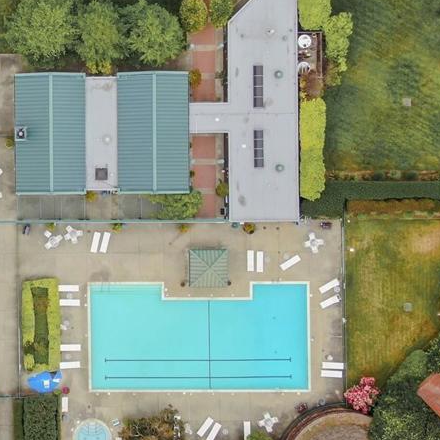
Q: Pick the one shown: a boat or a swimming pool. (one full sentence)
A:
It is a swimming pool that can be seen here.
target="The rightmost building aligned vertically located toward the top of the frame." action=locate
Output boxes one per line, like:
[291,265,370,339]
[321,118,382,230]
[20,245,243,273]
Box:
[190,0,300,223]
